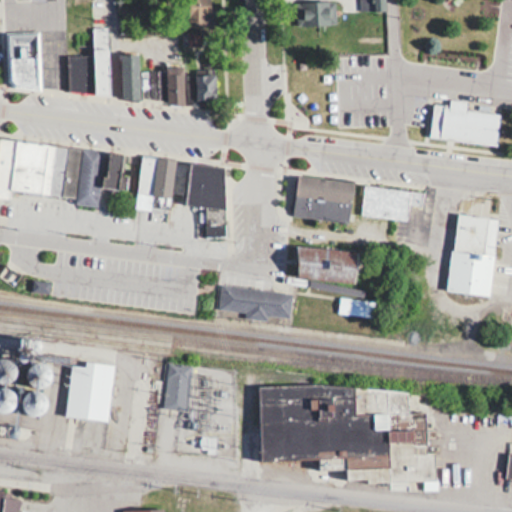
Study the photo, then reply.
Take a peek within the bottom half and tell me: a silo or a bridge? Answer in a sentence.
The one visible within the bottom half is a silo.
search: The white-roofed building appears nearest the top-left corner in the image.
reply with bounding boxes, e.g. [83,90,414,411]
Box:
[7,32,42,90]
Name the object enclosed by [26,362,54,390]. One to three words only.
silo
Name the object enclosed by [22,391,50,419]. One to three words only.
silo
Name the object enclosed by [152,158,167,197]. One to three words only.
building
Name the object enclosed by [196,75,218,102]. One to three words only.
house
